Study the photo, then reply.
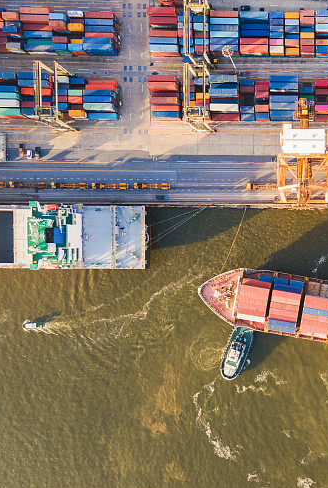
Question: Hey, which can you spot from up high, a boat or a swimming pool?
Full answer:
Visible in the photo is a boat.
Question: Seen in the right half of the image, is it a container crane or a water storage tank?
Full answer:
What appears in the right half of the image is a container crane.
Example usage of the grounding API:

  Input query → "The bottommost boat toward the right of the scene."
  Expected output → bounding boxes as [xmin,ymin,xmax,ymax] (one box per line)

[223,324,257,380]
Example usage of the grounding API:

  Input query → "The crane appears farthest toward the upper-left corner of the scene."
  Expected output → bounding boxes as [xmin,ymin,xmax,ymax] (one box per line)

[30,58,77,133]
